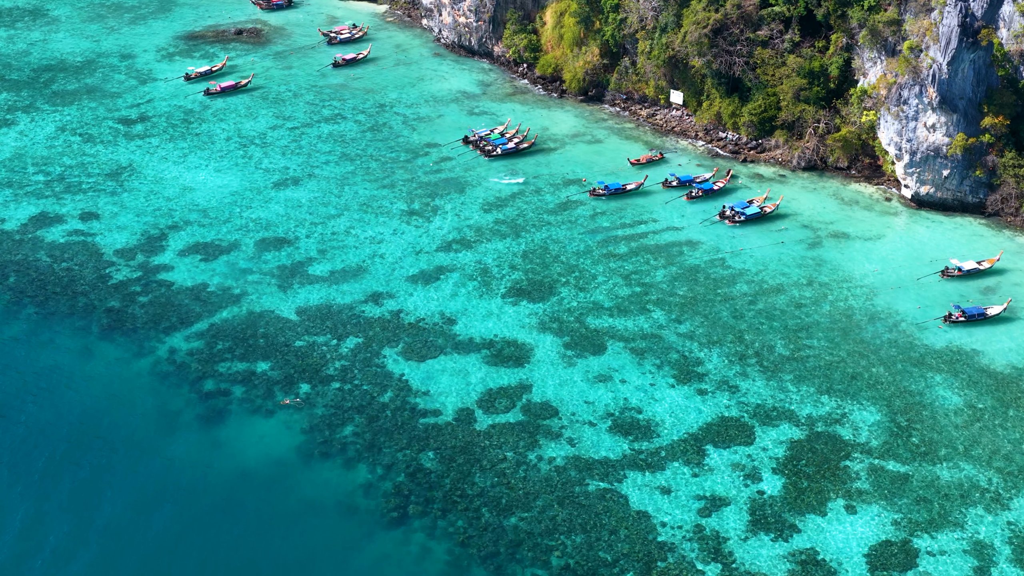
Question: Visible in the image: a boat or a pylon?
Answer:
boat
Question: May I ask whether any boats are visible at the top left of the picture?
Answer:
Yes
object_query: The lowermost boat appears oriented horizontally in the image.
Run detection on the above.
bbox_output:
[914,299,1011,327]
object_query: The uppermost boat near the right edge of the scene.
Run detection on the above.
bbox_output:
[913,250,1003,283]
